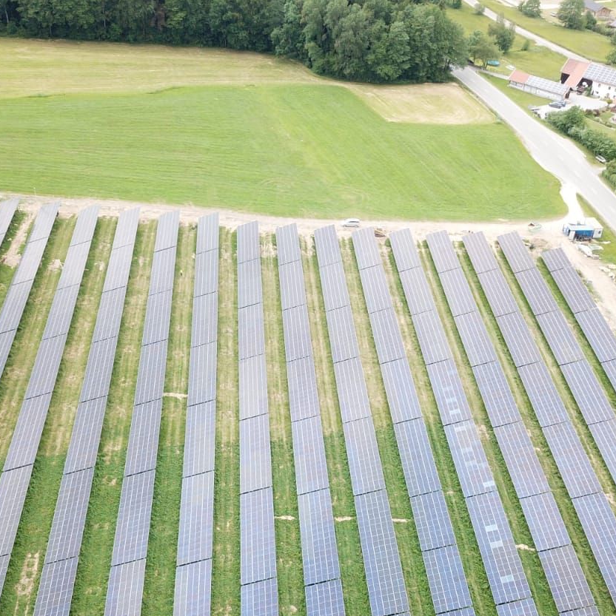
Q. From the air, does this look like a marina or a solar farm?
solar farm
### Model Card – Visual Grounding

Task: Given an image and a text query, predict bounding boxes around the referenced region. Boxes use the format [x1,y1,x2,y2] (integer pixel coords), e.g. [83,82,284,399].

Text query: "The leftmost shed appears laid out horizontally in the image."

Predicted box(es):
[510,74,572,103]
